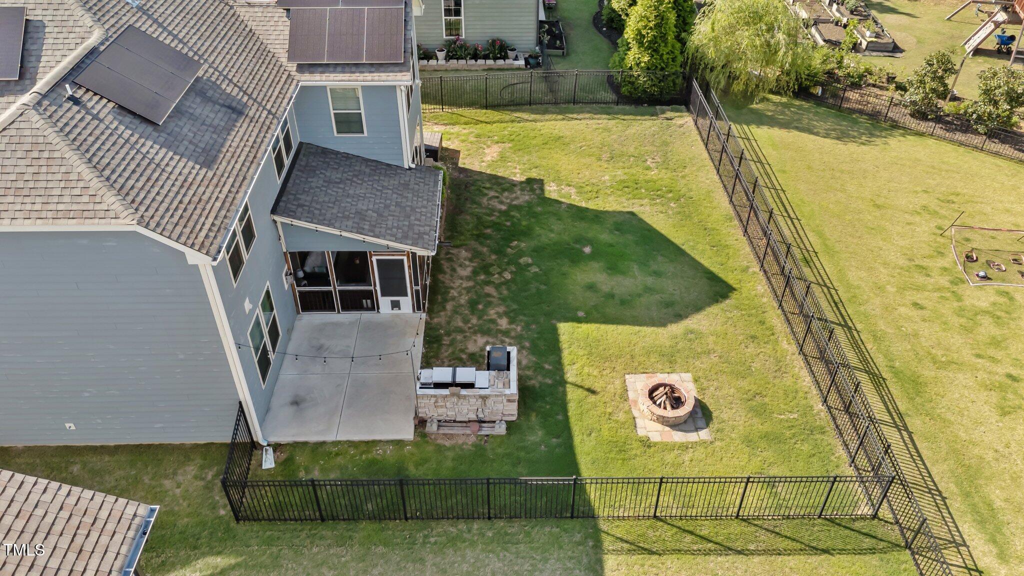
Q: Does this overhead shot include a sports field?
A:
No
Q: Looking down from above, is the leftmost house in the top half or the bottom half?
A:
bottom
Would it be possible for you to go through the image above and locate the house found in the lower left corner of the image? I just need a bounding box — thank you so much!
[0,470,159,576]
